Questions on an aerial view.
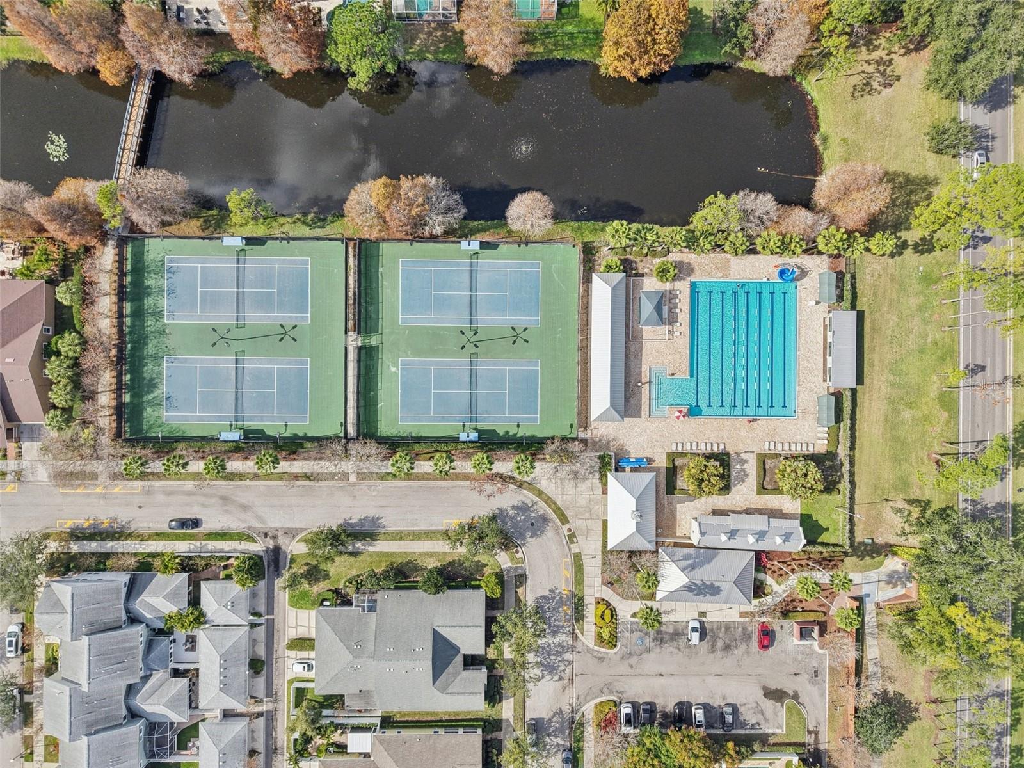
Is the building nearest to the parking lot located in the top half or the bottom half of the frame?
bottom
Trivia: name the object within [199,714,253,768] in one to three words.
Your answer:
building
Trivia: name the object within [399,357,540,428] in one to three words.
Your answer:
tennis court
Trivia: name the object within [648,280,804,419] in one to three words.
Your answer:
swimming pool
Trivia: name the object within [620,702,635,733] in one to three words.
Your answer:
car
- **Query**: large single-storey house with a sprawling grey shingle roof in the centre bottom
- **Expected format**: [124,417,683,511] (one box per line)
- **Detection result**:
[316,587,485,710]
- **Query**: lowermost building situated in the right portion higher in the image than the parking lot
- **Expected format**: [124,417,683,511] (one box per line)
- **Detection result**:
[656,547,755,605]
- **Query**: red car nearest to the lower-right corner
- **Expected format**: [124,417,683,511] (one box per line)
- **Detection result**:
[757,622,772,651]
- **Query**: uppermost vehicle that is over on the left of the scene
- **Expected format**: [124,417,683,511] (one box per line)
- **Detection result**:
[169,517,200,531]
